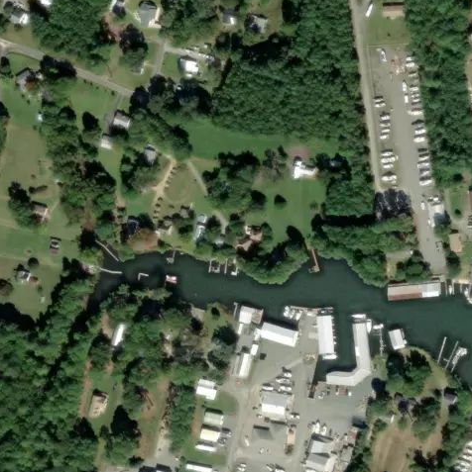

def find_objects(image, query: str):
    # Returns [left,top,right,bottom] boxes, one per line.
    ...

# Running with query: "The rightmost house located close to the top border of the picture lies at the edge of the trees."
[381,2,406,16]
